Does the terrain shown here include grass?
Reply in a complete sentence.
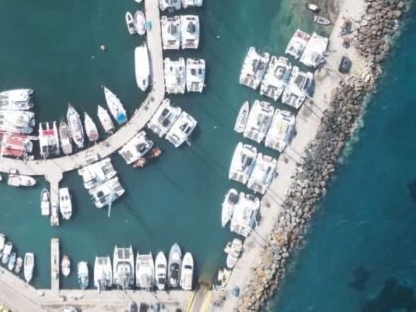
No, there's no grass in this view.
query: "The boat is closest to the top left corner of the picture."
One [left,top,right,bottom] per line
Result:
[0,89,33,115]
